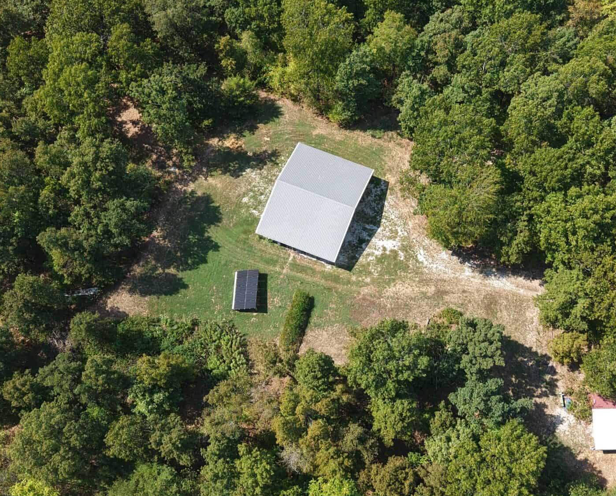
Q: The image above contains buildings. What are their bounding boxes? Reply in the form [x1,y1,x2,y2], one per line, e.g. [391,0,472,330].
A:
[255,142,376,267]
[587,390,616,453]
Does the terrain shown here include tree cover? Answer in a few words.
Yes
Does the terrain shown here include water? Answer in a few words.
No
